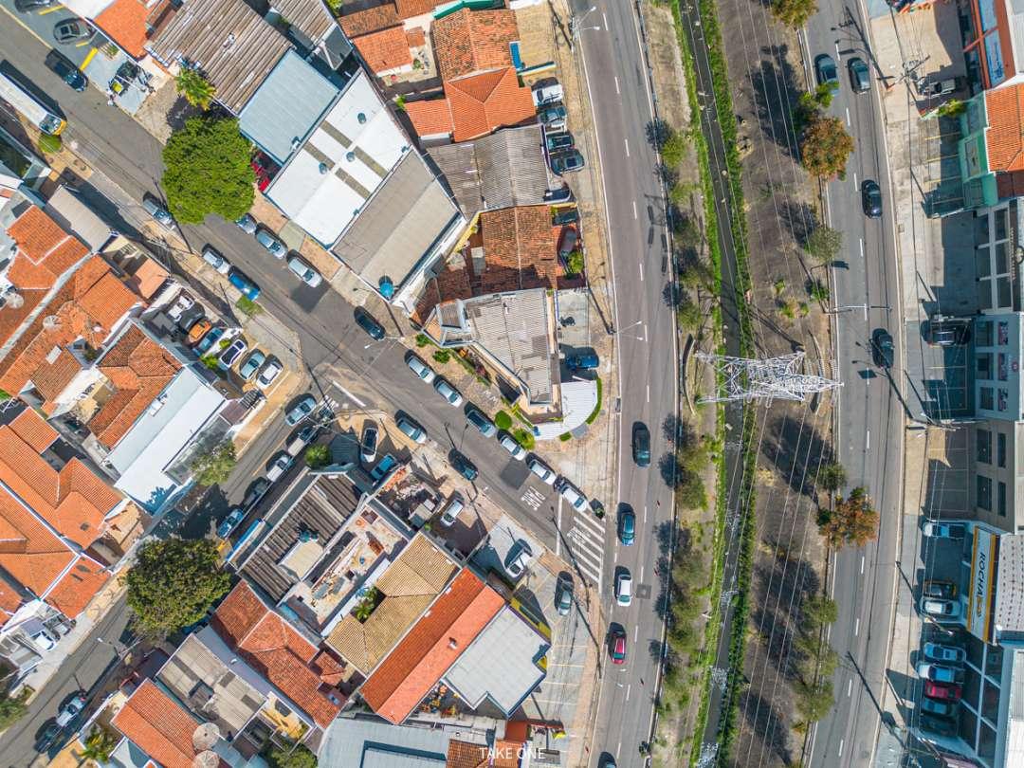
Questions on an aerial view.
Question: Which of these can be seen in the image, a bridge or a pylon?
pylon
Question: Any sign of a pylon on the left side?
No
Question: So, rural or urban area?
urban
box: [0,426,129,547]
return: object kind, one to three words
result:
house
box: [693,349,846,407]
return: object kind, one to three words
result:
pylon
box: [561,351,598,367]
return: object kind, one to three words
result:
vehicle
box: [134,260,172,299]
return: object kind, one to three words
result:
shed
